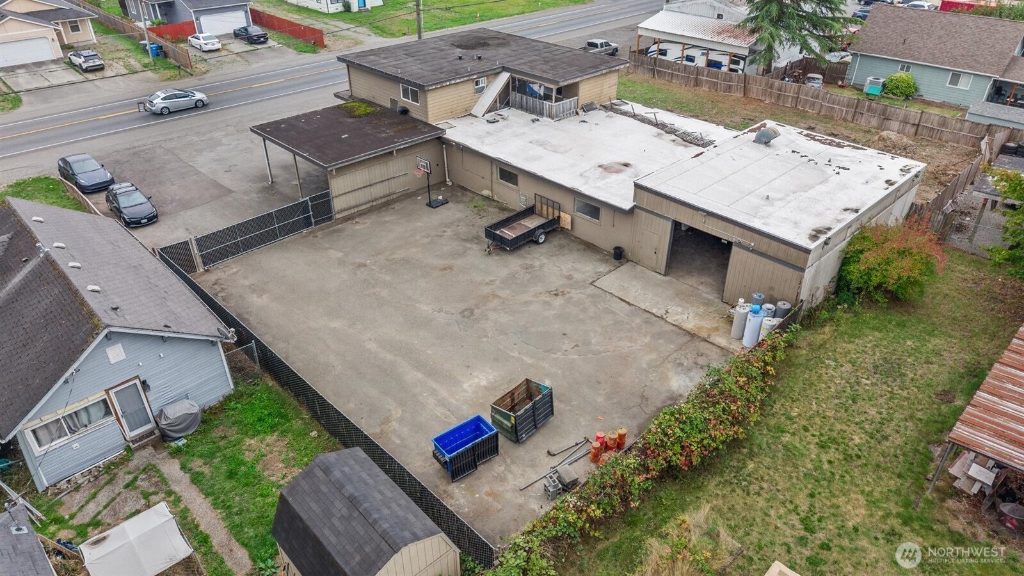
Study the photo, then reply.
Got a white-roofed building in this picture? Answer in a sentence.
Yes, a white-roofed building can be made out from above.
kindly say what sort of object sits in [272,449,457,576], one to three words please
shed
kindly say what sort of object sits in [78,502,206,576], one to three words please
tent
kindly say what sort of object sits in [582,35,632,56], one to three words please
truck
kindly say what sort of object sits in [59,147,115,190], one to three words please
car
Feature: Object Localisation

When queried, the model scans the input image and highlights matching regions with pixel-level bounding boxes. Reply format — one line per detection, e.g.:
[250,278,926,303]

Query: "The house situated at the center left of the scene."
[0,197,236,490]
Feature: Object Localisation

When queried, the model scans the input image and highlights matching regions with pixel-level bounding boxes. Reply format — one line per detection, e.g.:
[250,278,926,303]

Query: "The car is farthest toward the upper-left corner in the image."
[69,48,103,71]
